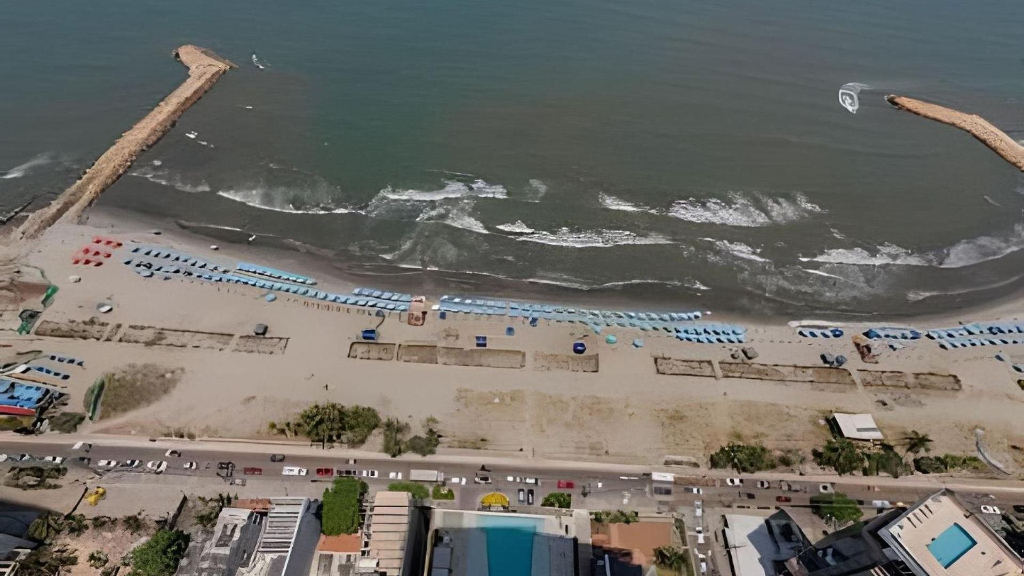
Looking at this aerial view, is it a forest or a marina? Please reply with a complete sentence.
It's a marina.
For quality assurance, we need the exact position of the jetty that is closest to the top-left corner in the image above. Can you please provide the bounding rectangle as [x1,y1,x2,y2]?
[21,48,231,240]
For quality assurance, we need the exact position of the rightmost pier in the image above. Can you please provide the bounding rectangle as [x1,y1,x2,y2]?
[892,98,1024,172]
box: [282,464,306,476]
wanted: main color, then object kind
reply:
white vehicle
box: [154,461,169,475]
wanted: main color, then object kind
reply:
white car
